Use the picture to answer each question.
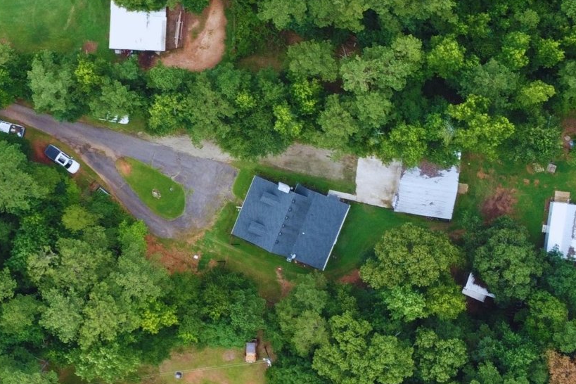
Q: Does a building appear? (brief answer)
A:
Yes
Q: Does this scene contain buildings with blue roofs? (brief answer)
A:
Yes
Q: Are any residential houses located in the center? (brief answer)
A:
Yes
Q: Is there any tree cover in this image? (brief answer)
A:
Yes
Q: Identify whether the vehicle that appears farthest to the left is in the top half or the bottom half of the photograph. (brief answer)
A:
top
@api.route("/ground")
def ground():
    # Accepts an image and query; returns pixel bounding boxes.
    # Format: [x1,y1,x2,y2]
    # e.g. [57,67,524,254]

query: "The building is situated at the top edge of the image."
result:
[109,1,167,52]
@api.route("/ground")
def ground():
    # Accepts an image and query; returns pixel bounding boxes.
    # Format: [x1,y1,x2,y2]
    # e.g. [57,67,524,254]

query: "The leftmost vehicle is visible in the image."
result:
[0,118,24,138]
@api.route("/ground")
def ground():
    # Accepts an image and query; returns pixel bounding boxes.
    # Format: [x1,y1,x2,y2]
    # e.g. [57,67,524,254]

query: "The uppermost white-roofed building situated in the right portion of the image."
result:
[395,151,462,219]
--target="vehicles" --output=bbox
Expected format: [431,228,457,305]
[43,143,79,174]
[244,333,258,364]
[0,118,24,138]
